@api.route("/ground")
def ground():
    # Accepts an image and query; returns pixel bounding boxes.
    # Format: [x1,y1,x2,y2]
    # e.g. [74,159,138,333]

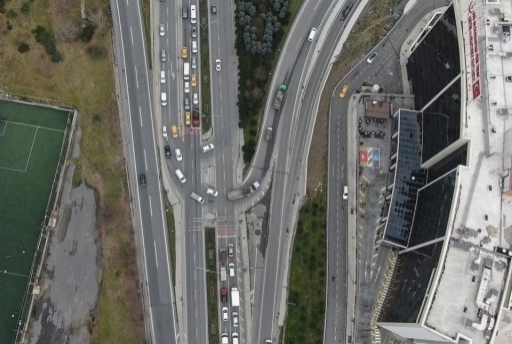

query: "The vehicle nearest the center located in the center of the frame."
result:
[229,182,261,199]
